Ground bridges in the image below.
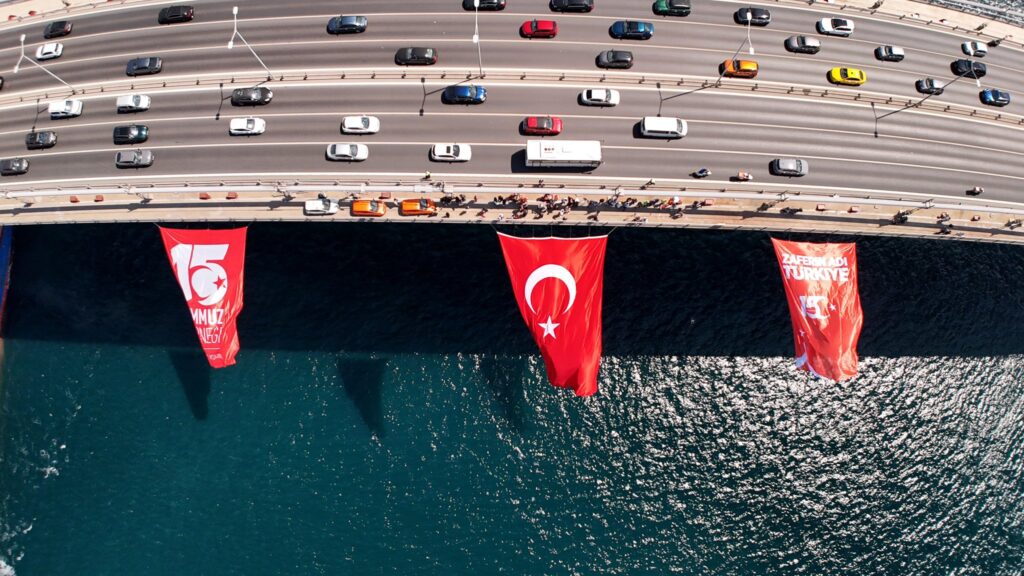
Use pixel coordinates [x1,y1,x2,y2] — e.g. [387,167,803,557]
[0,0,1024,245]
